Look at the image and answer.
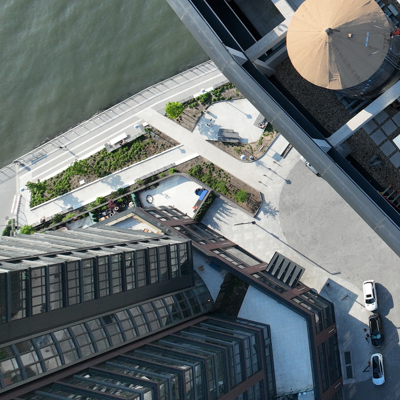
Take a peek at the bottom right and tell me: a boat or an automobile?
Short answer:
automobile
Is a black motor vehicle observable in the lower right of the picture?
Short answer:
Yes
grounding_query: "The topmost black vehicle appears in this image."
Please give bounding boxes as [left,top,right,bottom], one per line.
[369,313,386,348]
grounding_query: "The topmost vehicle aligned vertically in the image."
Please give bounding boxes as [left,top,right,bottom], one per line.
[363,278,380,313]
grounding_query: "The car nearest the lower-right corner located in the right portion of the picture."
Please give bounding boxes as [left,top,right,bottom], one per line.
[371,351,386,386]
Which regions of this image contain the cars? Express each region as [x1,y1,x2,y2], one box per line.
[371,351,386,386]
[298,155,326,184]
[369,313,386,348]
[363,278,380,313]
